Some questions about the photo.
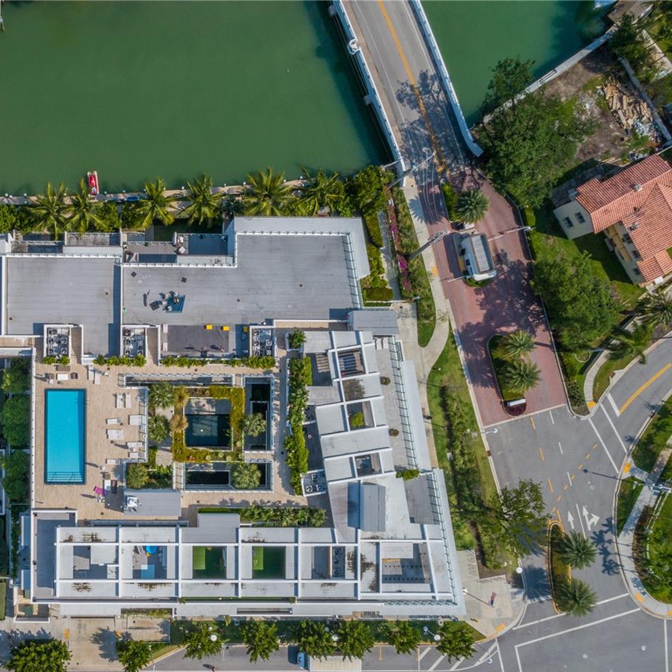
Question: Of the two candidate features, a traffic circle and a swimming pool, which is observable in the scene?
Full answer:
The image shows a swimming pool.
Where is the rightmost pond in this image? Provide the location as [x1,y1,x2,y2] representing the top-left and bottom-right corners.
[185,414,232,450]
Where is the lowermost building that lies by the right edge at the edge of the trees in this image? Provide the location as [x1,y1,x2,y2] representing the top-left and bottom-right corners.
[558,154,672,287]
